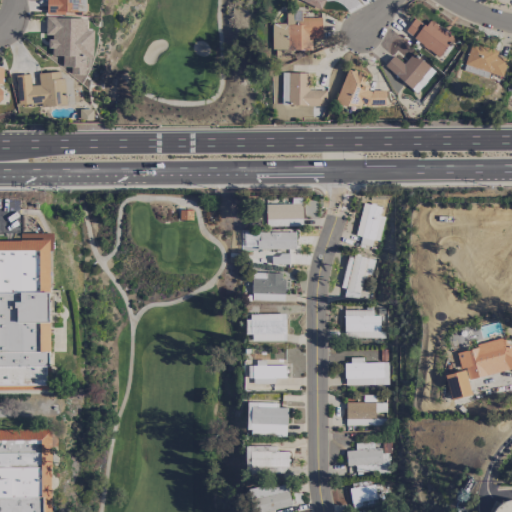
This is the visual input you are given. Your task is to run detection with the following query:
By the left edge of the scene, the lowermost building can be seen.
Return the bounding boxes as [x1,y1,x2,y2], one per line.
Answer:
[0,431,57,512]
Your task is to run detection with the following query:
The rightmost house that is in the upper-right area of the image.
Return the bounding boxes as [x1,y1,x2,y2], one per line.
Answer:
[466,45,510,80]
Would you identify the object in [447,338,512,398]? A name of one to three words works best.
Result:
house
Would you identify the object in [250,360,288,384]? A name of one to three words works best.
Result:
house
